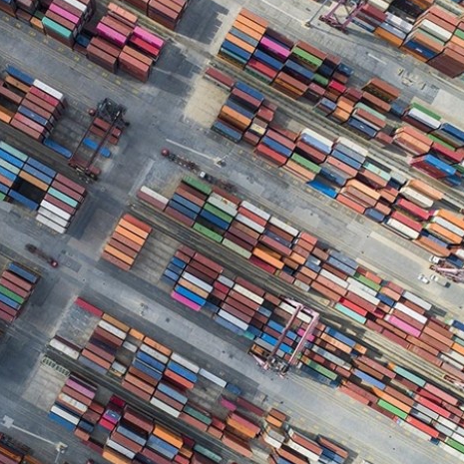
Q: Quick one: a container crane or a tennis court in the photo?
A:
container crane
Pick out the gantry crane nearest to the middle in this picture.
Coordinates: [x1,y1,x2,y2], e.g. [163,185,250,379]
[250,293,324,378]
